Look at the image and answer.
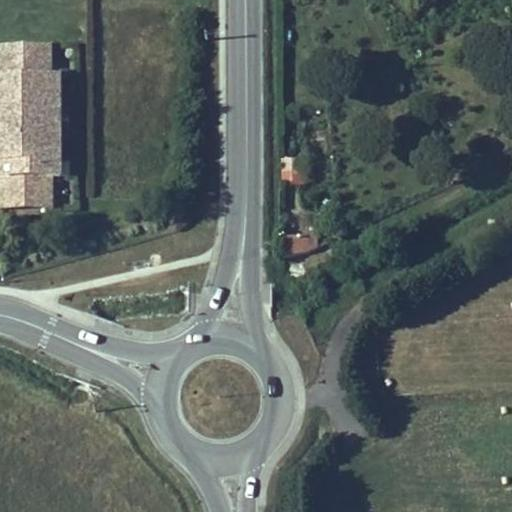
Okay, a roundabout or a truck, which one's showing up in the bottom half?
roundabout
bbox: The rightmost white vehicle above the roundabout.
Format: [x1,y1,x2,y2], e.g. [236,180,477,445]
[210,286,225,308]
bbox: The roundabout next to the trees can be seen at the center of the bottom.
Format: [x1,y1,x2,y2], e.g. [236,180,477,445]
[140,312,296,479]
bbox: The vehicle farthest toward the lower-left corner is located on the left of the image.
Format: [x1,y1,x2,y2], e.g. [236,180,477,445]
[79,331,102,346]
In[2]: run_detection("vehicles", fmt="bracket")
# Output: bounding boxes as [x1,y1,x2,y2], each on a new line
[210,286,225,308]
[79,331,102,346]
[268,377,278,398]
[246,476,256,498]
[186,334,204,344]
